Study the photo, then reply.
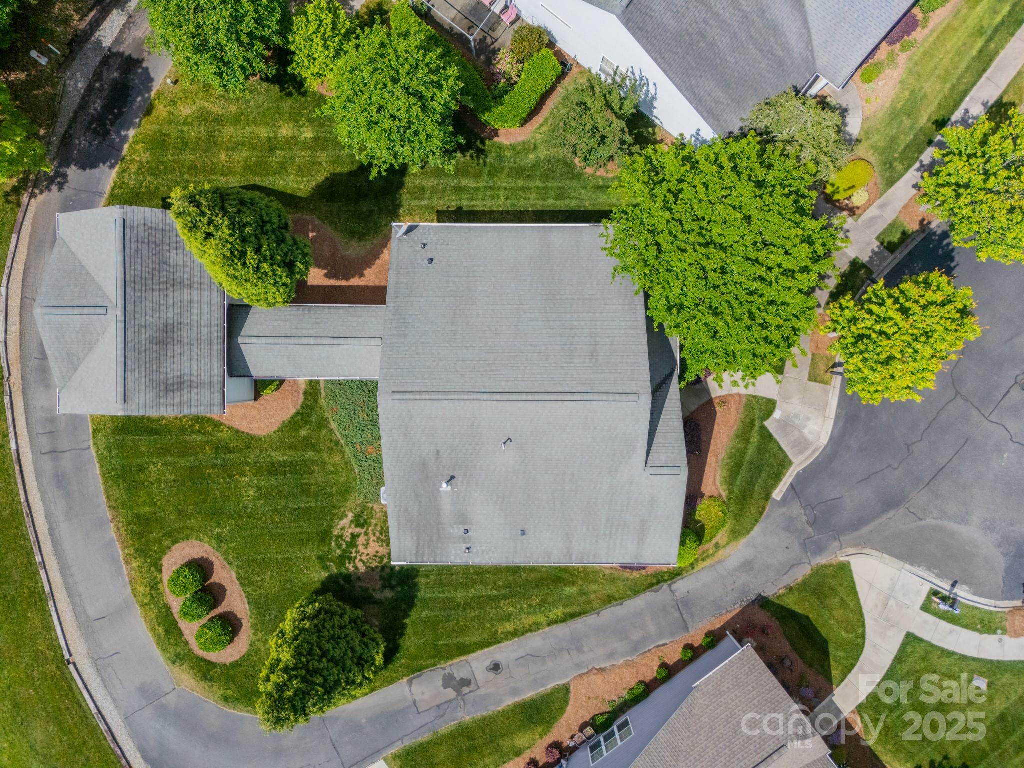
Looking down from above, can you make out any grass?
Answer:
Yes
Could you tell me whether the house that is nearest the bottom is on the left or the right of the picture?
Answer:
right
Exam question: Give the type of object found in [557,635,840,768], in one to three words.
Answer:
house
